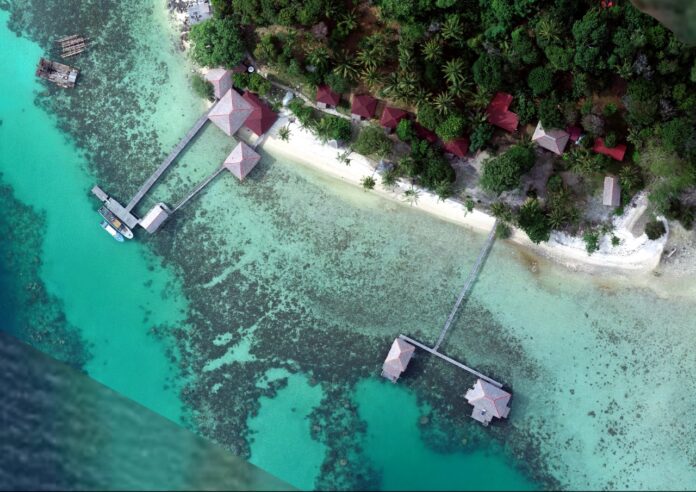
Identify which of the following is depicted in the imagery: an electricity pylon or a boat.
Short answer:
boat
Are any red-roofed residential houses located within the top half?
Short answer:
Yes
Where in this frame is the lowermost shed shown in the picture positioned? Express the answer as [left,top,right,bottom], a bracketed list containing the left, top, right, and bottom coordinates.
[465,379,512,426]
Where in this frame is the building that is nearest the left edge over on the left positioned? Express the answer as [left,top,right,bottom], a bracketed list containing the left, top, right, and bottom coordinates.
[137,201,174,235]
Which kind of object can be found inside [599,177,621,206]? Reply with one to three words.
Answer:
shed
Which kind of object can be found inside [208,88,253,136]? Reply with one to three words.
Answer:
building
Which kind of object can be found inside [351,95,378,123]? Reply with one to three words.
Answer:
house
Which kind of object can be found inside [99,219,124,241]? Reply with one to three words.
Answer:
boat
